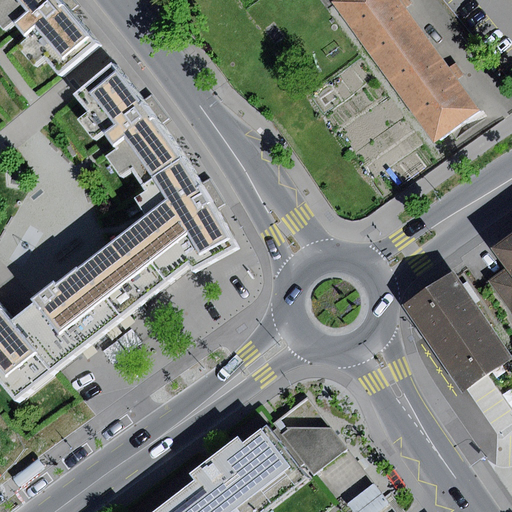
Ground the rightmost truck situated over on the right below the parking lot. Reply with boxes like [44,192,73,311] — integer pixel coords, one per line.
[479,248,500,273]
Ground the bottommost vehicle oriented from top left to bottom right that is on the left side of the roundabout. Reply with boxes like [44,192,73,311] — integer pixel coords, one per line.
[203,300,221,321]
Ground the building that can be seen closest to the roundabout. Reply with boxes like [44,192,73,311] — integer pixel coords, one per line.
[402,271,512,394]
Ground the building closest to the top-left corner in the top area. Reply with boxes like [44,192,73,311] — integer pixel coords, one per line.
[0,0,106,78]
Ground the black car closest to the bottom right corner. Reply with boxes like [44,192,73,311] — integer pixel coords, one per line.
[449,486,468,510]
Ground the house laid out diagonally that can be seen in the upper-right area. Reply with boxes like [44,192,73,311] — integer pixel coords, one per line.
[330,0,488,141]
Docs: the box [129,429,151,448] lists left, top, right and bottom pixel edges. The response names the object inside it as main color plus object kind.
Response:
black car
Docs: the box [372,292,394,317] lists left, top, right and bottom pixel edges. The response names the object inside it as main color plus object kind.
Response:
white car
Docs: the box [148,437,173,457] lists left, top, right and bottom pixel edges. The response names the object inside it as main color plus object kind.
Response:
white car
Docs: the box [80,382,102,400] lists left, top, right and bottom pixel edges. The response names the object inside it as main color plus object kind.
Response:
black car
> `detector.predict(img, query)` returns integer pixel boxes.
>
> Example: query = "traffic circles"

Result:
[270,238,402,369]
